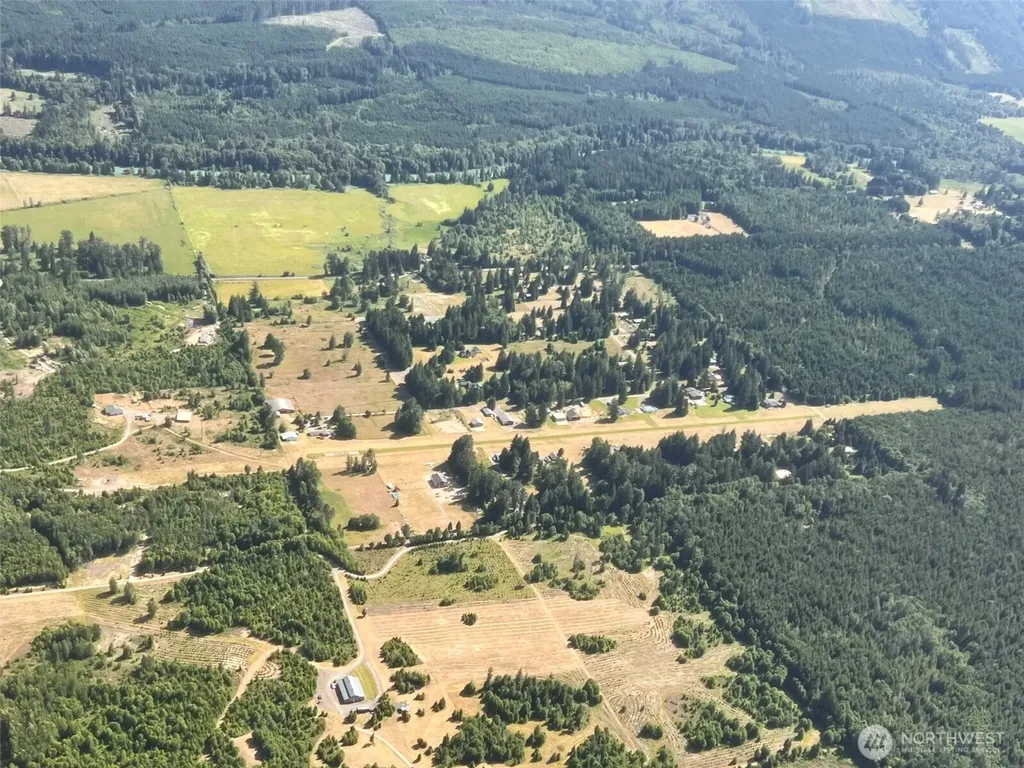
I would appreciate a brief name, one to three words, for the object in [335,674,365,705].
hangar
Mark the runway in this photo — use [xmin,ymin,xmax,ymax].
[299,396,945,464]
